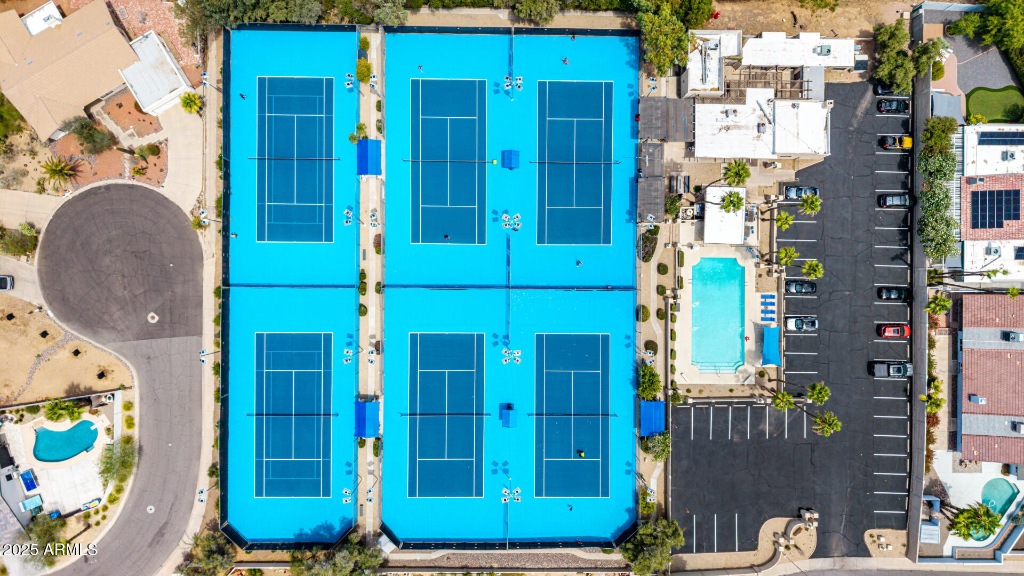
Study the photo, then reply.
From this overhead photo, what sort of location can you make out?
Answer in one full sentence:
The area seen from above is a sports ground.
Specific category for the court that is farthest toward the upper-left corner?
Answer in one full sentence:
The court that is farthest toward the upper-left corner in the image is a tennis court.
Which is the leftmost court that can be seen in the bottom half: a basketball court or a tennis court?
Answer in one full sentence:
The leftmost court that can be seen in the bottom half is a tennis court.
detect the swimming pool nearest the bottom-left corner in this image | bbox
[31,418,99,463]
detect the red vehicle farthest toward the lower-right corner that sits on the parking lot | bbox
[880,324,913,339]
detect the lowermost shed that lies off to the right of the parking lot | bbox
[920,520,940,544]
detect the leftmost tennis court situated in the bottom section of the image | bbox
[228,286,359,543]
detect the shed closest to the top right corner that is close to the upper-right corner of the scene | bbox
[924,23,943,45]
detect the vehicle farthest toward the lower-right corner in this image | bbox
[872,362,914,378]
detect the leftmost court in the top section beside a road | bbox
[229,30,360,287]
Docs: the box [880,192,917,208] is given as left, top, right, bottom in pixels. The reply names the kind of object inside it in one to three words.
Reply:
car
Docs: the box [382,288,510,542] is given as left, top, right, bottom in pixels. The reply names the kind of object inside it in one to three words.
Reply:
tennis court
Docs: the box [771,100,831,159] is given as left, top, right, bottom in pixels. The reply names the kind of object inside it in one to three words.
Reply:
building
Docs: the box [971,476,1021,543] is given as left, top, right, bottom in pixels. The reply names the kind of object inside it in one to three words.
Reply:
swimming pool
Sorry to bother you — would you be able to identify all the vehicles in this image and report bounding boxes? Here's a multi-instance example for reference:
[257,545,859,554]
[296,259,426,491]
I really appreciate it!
[787,184,821,199]
[787,280,820,295]
[880,324,913,339]
[880,192,917,208]
[879,97,912,113]
[787,316,821,332]
[877,82,912,96]
[872,362,914,378]
[0,276,13,290]
[879,285,914,301]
